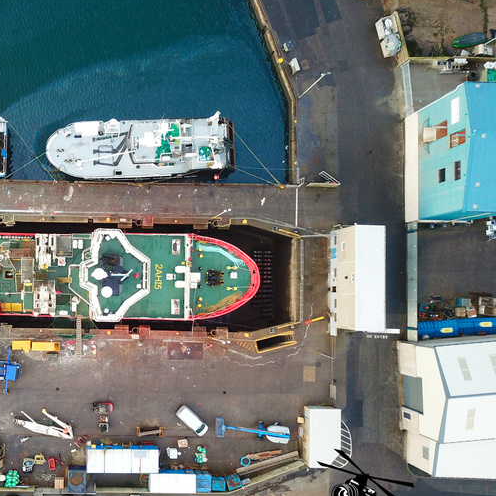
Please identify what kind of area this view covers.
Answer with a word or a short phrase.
port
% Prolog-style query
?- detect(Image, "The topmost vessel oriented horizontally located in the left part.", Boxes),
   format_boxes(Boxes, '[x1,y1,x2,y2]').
[47,110,235,181]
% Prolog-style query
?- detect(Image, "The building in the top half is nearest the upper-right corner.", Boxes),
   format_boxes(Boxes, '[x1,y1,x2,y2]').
[405,79,496,220]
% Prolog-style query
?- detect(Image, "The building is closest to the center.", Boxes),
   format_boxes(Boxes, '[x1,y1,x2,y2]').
[328,220,387,337]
